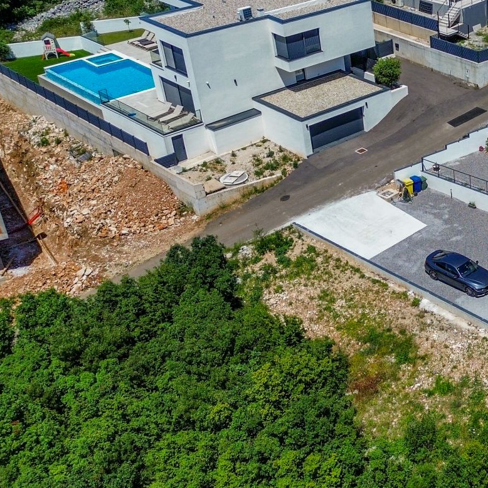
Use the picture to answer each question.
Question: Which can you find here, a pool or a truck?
pool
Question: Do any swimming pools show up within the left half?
Yes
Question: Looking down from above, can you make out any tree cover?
Yes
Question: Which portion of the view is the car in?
right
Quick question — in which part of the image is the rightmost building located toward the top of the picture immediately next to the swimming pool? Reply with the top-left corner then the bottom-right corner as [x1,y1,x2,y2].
[105,0,415,163]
